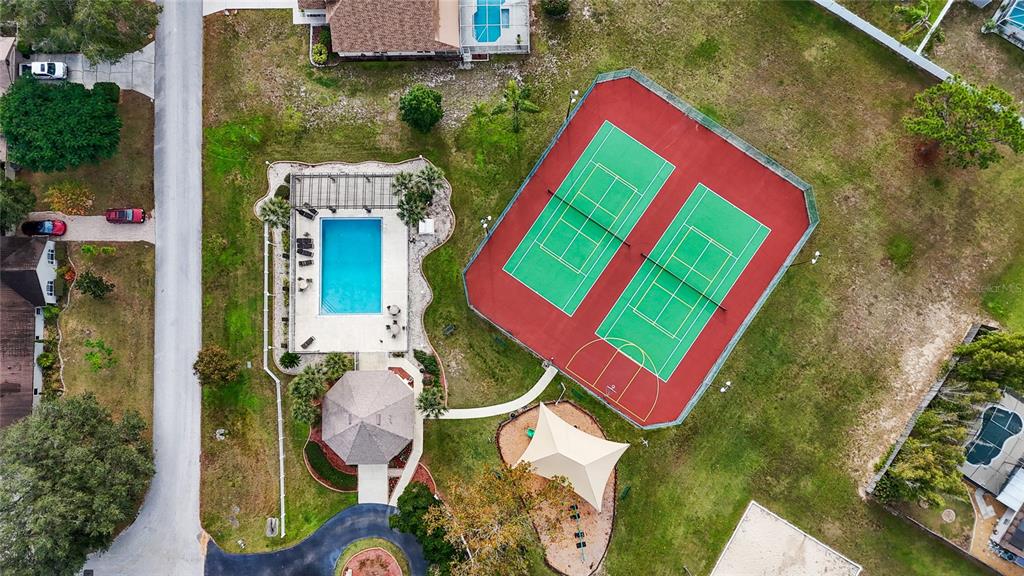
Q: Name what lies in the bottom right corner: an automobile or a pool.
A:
pool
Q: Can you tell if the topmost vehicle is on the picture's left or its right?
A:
left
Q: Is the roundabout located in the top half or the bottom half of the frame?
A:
bottom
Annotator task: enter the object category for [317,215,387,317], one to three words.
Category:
swimming pool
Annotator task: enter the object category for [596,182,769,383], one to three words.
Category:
tennis court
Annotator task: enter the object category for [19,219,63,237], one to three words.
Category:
car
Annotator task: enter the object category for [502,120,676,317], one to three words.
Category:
tennis court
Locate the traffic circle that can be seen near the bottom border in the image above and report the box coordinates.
[205,503,436,576]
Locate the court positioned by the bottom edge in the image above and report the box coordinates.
[707,501,864,576]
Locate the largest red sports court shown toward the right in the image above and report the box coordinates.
[464,75,810,427]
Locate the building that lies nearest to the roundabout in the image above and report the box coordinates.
[322,371,415,465]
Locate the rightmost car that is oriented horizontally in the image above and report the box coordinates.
[104,208,144,226]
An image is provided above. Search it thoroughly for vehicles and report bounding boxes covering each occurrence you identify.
[104,208,144,226]
[19,219,63,237]
[19,61,68,81]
